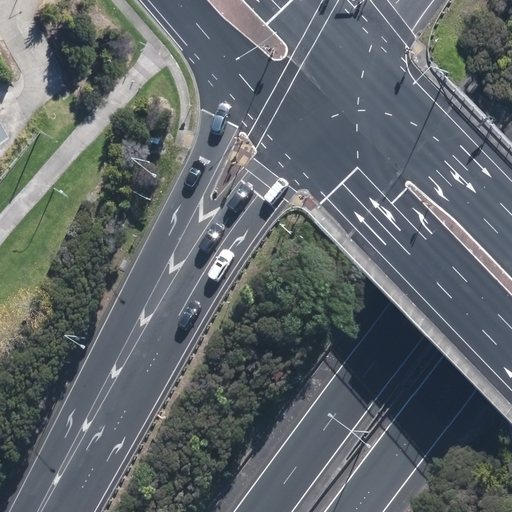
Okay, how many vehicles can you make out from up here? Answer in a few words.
seven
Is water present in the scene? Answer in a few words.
No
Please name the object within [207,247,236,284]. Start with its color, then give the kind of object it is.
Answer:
white car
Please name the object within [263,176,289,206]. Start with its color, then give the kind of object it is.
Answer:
white vehicle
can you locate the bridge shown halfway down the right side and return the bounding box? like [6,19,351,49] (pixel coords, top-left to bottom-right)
[350,73,512,424]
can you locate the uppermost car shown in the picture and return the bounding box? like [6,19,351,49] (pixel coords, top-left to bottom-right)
[210,102,232,137]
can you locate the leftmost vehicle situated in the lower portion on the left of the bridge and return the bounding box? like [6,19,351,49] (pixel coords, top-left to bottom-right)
[178,299,204,332]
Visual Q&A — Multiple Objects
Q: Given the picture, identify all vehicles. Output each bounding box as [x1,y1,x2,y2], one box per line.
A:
[178,299,204,332]
[207,247,236,284]
[226,180,256,216]
[185,156,210,190]
[198,220,227,256]
[263,176,289,206]
[210,102,232,137]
